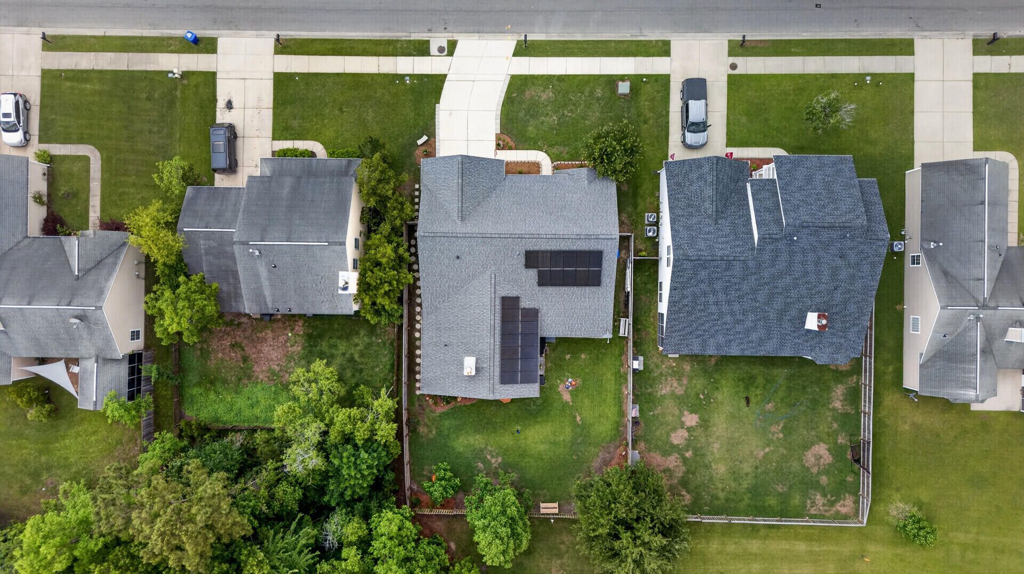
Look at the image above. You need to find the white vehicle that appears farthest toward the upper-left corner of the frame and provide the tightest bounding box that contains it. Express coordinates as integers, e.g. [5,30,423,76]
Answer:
[1,92,35,147]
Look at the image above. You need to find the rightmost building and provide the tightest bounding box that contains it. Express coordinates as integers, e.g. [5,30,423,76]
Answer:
[902,157,1024,413]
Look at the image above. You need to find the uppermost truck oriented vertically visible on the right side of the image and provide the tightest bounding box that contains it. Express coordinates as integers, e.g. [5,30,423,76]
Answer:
[680,79,711,148]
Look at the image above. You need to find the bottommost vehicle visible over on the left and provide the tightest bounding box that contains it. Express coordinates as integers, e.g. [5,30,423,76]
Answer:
[209,123,239,176]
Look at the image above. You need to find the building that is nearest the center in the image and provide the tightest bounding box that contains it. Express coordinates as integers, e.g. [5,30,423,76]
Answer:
[416,153,619,398]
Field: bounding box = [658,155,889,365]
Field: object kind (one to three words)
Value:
house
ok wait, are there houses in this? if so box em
[658,155,889,365]
[177,157,368,314]
[0,155,145,411]
[416,153,619,398]
[902,157,1024,413]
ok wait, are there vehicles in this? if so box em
[209,123,239,176]
[1,92,35,147]
[680,79,711,148]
